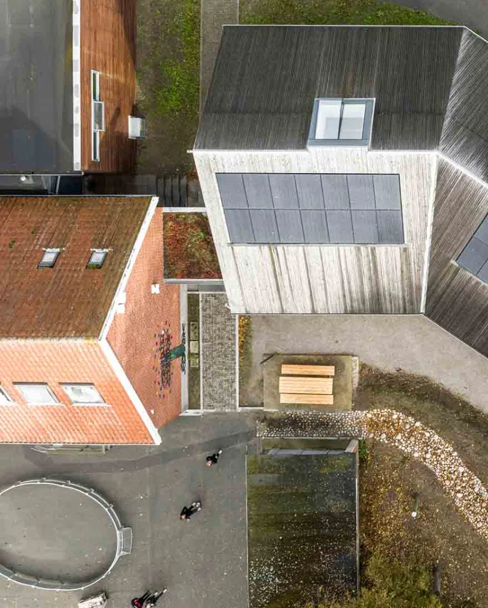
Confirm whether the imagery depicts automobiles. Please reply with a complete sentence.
No, no automobile can be seen from above.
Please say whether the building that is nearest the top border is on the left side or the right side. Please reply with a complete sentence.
You can find the building that is nearest the top border on the left side of the picture.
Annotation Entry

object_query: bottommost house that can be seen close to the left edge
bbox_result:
[0,193,187,448]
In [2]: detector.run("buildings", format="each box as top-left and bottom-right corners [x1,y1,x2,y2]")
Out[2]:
[0,193,187,448]
[187,25,488,359]
[247,435,362,608]
[0,0,137,177]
